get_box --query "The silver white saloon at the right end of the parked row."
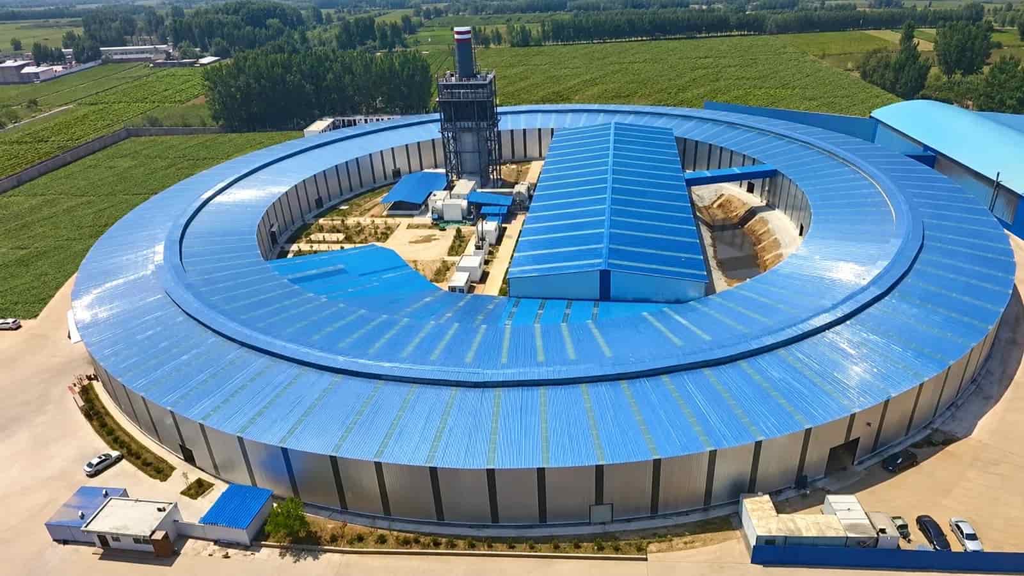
[954,513,992,549]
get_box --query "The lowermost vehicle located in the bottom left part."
[82,451,123,474]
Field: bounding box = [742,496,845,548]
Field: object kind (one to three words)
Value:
building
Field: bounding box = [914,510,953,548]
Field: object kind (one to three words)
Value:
car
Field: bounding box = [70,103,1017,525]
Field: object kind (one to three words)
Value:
building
